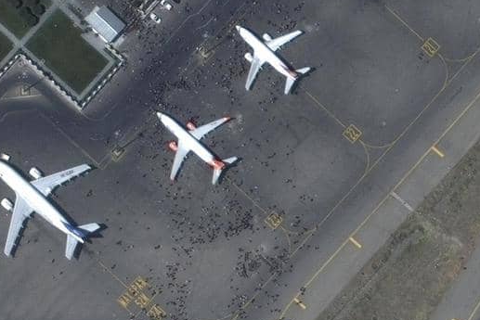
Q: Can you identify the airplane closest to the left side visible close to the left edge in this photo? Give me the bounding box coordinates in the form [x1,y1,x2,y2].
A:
[0,160,100,258]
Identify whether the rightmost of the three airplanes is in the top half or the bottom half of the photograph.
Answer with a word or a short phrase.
top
